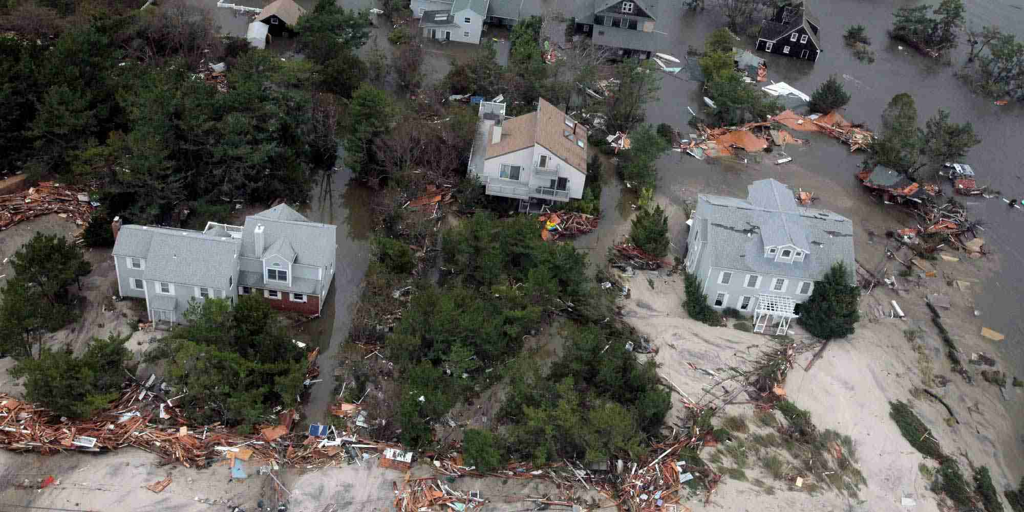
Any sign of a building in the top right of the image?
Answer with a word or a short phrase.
Yes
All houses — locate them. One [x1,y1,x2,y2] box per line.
[261,0,312,40]
[414,0,548,43]
[573,0,659,57]
[687,176,860,333]
[468,96,590,222]
[756,2,821,61]
[108,191,340,334]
